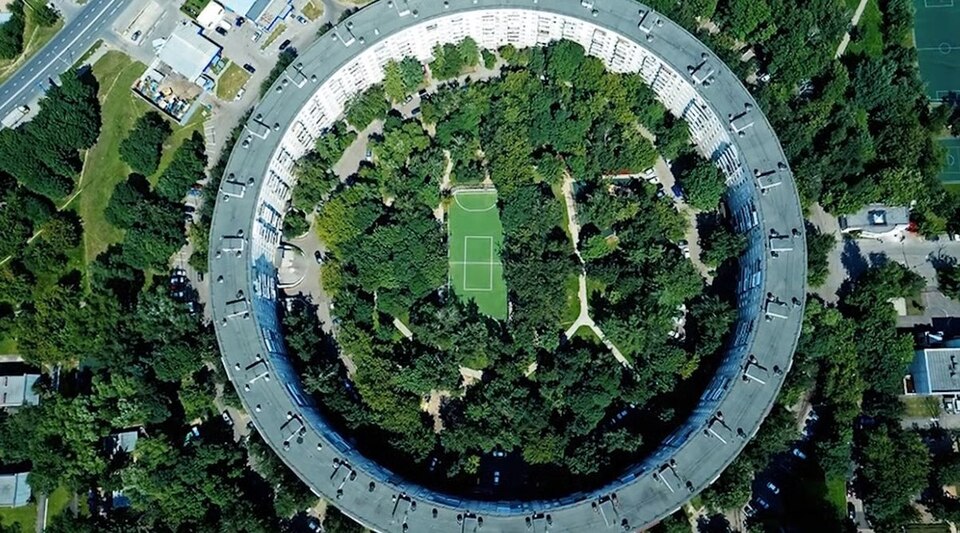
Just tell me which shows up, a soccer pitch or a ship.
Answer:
soccer pitch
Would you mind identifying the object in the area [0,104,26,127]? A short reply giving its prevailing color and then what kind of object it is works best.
white truck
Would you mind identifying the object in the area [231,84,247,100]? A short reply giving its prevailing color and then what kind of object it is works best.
white vehicle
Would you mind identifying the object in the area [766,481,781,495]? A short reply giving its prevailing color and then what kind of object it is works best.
blue car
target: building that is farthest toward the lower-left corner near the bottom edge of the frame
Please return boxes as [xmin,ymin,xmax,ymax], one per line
[0,471,38,507]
